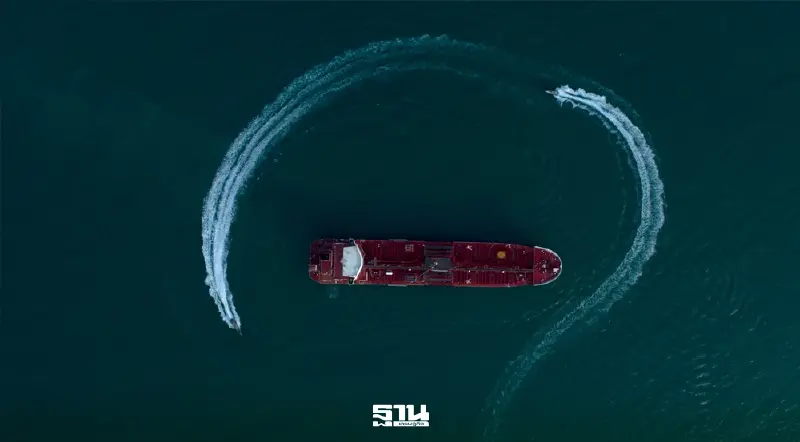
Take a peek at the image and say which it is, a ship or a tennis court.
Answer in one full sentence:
There is a ship in the scene.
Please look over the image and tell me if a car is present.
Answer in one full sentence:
No, there isn't any car down there.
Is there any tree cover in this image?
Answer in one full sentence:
No, there is no tree cover in the image.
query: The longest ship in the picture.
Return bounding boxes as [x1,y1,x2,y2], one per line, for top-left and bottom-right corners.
[308,238,564,287]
